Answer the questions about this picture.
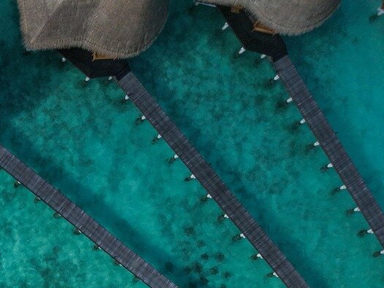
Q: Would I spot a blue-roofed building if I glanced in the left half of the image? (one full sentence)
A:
No, I see no blue-roofed building in the left half of the image.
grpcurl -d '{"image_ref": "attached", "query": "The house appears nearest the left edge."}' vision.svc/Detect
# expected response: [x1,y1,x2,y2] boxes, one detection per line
[12,0,168,90]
